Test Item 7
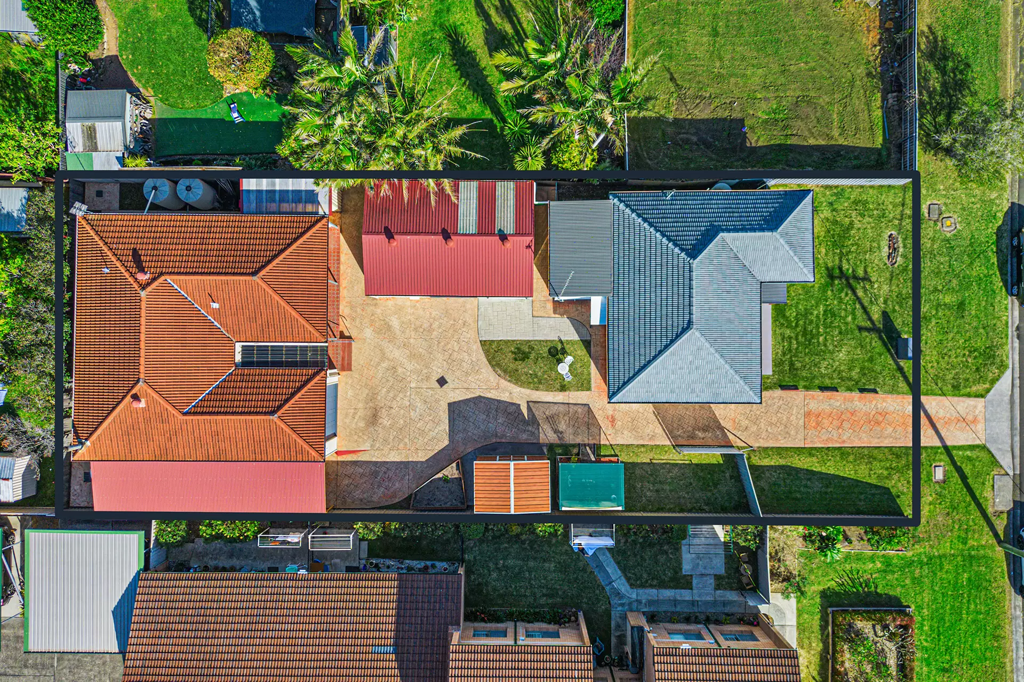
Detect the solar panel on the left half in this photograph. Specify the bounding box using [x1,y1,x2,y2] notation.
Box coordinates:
[242,343,326,365]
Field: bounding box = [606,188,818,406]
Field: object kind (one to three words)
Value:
house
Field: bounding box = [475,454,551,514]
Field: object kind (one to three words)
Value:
gazebo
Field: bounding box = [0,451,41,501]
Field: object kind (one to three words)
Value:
shed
